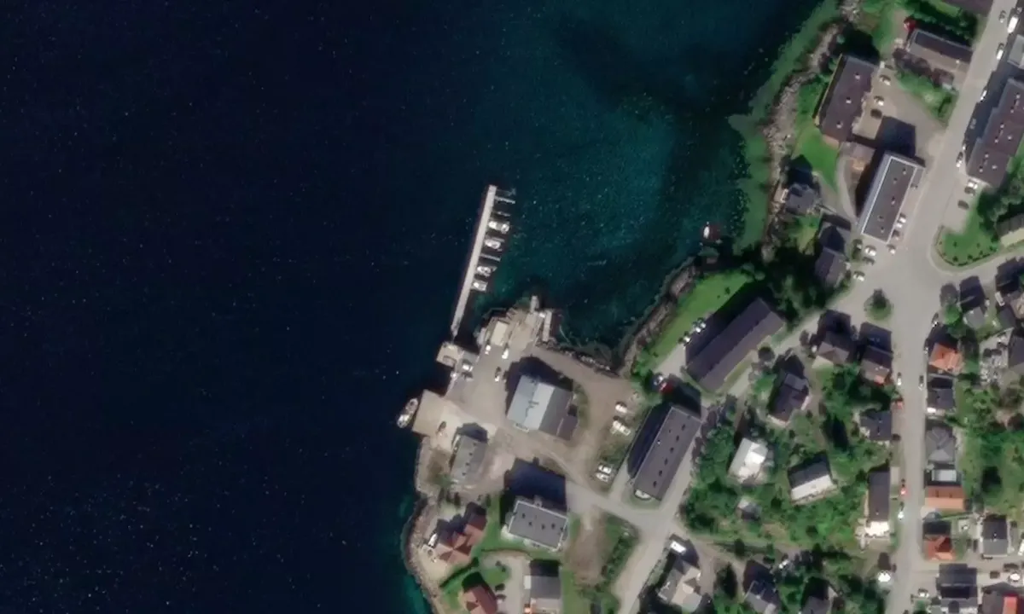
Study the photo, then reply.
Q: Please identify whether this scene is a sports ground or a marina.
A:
marina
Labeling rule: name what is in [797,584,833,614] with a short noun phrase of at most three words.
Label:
house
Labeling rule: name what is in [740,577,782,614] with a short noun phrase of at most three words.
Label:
house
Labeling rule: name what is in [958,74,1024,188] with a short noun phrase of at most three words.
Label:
building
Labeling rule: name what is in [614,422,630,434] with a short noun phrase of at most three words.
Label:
vehicle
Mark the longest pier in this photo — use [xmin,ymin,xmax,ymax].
[452,185,515,334]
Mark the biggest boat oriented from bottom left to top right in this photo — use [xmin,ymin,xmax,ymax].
[400,399,419,426]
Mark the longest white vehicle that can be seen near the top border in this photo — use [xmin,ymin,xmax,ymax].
[1008,15,1020,35]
